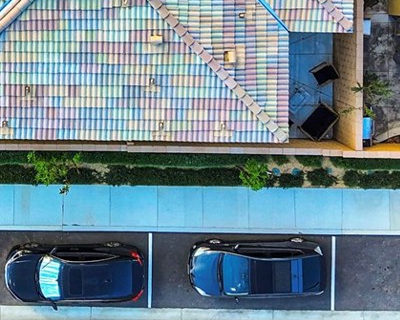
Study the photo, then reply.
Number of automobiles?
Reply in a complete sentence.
Looking from above, you can make out 2 automobiles.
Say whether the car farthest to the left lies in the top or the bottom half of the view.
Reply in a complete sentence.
You can find the car farthest to the left in the bottom half.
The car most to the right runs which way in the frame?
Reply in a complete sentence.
The car most to the right is oriented from side to side.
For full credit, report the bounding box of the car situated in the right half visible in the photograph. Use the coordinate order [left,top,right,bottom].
[187,238,326,308]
